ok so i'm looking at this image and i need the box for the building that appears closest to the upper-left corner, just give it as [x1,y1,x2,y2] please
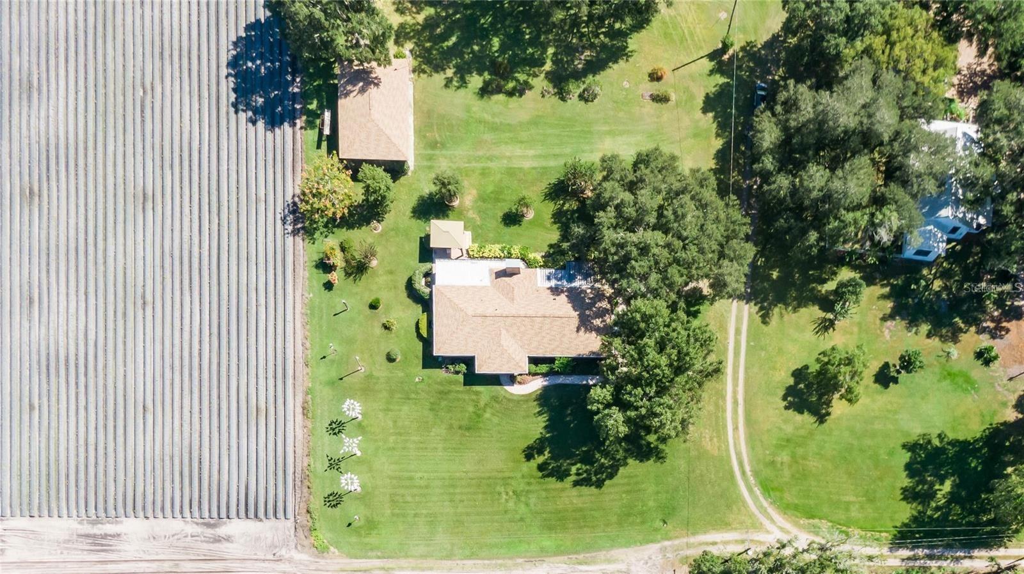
[339,58,410,171]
